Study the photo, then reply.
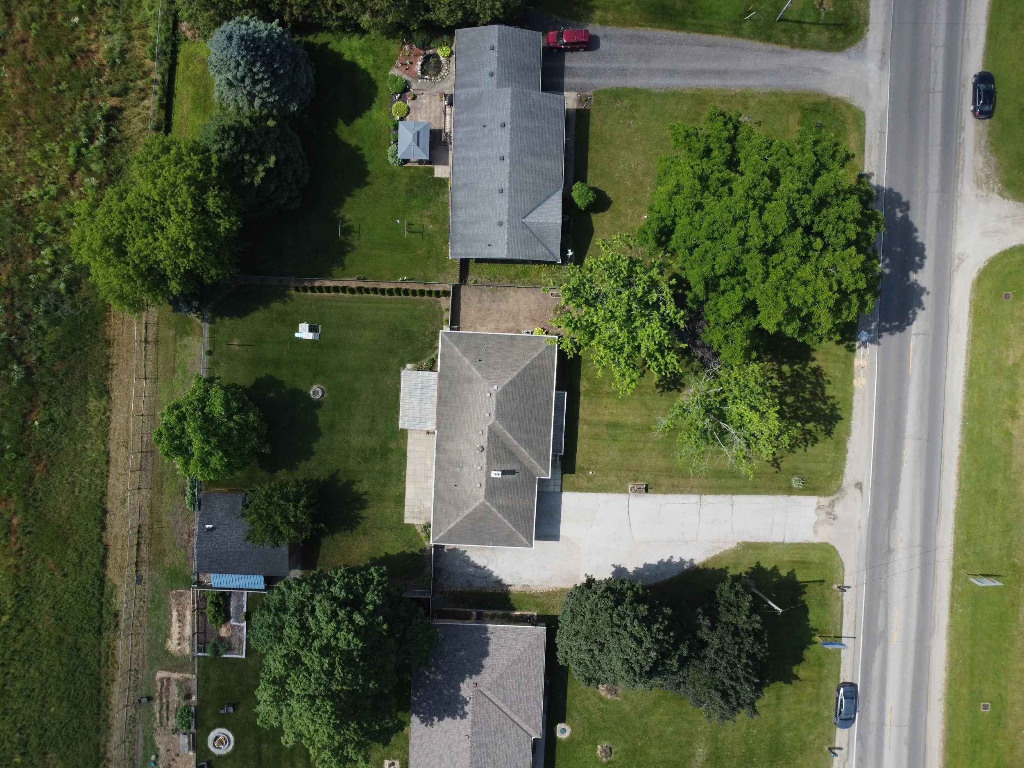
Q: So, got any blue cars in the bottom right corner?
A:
Yes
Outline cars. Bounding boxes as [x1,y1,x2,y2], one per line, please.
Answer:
[835,681,861,729]
[973,69,1000,118]
[546,26,591,52]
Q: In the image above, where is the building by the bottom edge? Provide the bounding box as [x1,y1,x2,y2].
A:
[407,616,550,768]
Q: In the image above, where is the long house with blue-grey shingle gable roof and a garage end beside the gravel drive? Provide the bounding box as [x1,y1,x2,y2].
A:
[449,24,566,265]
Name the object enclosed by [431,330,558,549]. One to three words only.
house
